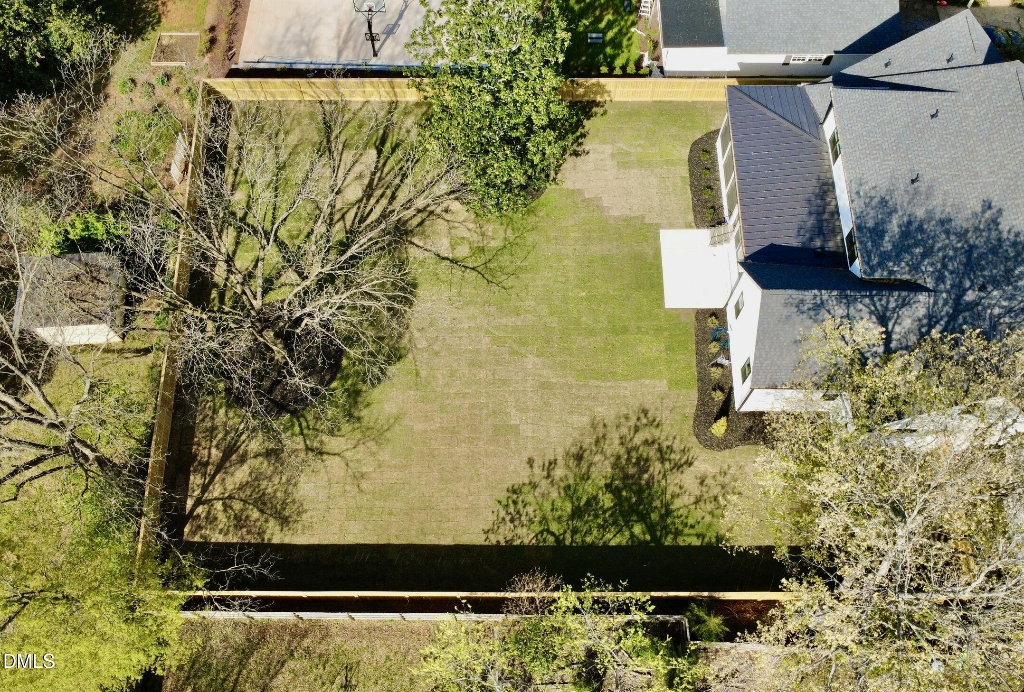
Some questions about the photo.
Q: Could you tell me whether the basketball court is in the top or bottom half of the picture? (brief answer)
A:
top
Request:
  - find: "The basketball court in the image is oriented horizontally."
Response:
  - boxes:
[232,0,592,68]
